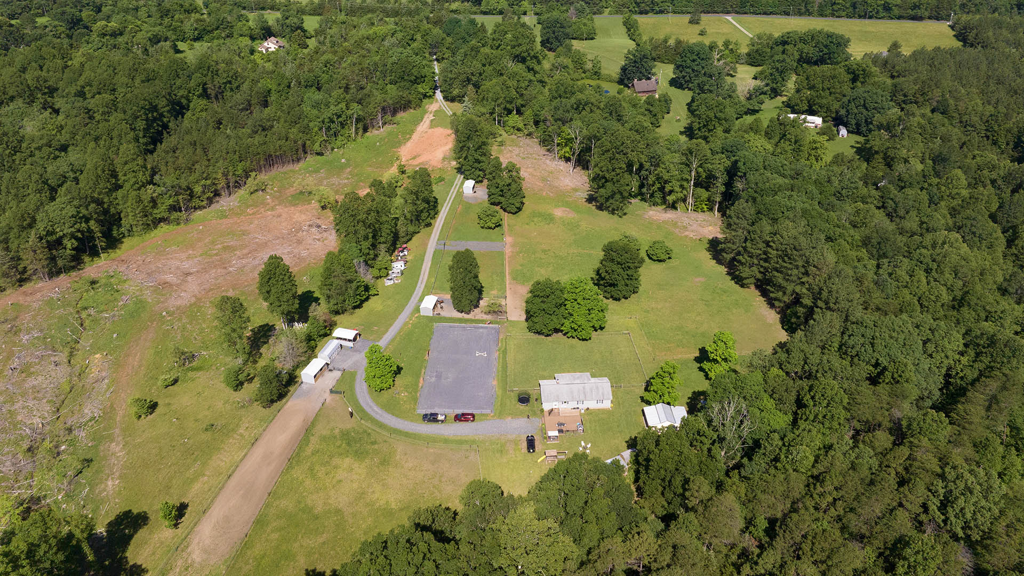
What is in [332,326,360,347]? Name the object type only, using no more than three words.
barn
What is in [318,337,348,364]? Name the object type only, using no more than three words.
barn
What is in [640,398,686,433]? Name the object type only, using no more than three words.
shed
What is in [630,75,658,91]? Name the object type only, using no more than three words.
house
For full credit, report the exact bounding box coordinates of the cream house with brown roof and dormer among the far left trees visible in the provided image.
[256,33,288,53]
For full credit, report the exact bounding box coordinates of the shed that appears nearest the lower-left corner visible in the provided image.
[300,357,326,384]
